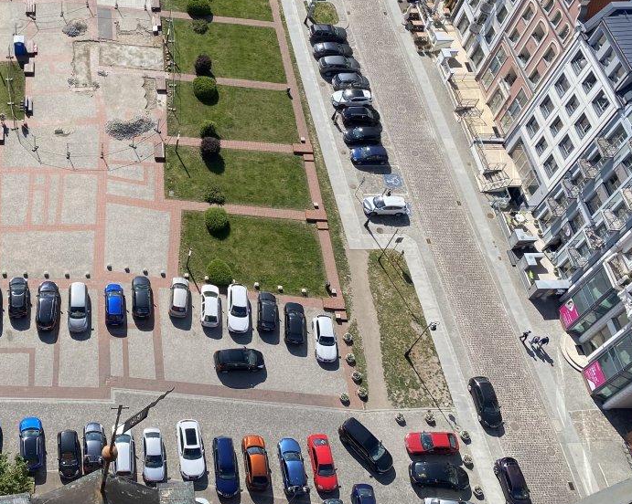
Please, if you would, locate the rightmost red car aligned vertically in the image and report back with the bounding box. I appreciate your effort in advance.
[307,434,340,494]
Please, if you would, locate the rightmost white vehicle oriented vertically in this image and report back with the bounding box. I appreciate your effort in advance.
[312,313,339,364]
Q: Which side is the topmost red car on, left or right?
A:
right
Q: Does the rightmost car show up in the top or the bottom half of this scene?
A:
bottom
